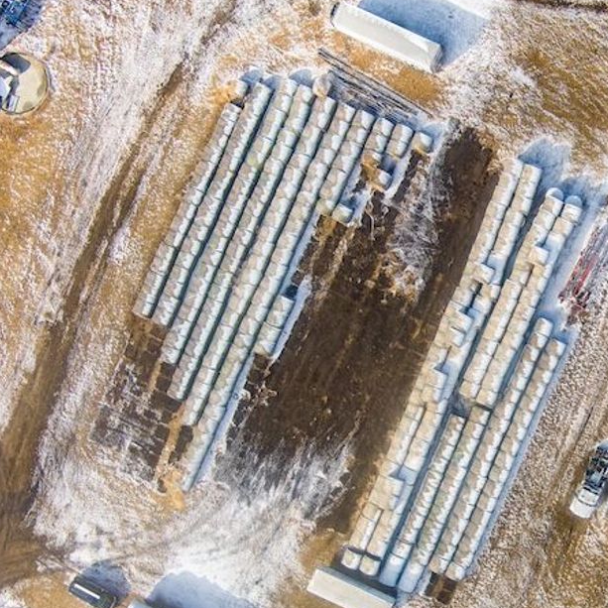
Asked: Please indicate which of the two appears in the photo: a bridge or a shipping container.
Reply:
shipping container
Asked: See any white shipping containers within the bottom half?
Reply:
Yes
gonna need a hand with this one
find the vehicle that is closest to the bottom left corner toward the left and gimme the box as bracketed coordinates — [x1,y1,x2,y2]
[68,573,121,608]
